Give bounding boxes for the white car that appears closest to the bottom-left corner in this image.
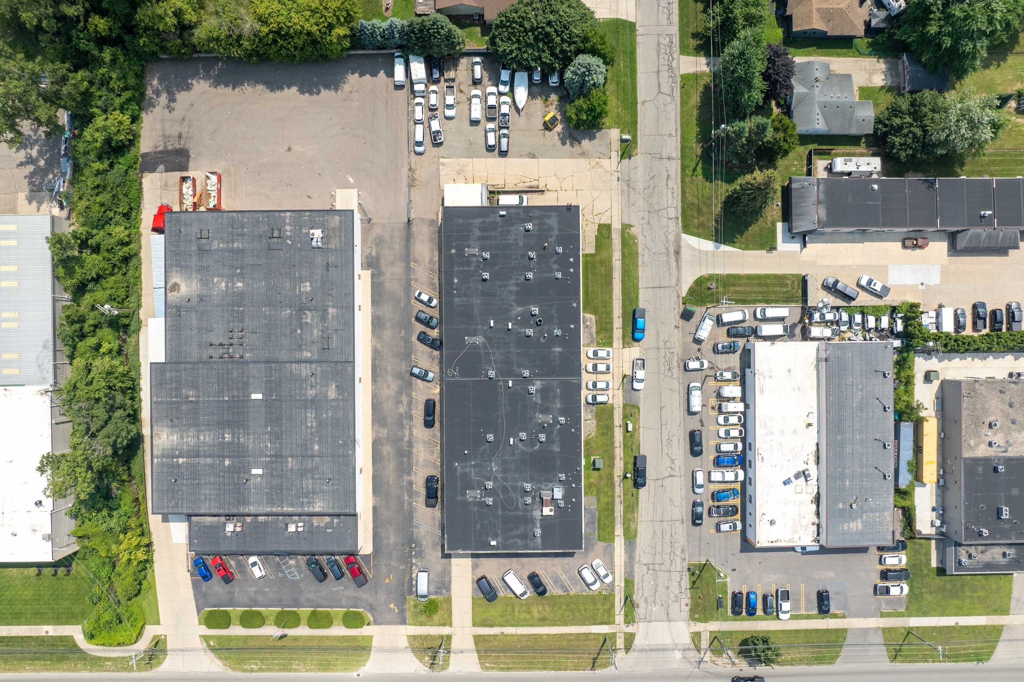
[248,555,266,581]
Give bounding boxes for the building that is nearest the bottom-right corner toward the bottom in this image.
[917,378,1024,575]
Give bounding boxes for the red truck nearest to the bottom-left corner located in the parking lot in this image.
[211,555,235,586]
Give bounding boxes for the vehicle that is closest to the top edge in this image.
[872,0,910,29]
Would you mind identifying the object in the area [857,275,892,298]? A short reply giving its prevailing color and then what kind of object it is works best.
white truck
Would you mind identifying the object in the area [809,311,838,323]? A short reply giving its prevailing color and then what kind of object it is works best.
white vehicle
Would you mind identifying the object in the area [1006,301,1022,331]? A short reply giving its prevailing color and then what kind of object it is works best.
gray vehicle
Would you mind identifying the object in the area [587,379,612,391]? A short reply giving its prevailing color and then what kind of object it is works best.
white vehicle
